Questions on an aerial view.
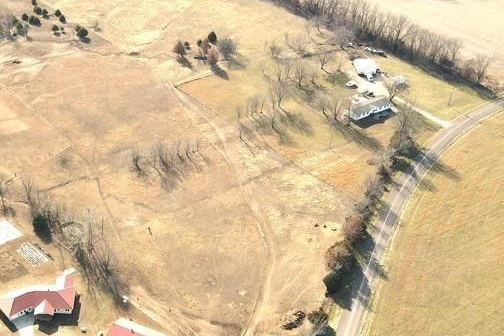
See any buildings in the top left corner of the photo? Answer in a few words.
No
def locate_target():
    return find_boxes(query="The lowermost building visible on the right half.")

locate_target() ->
[343,93,393,119]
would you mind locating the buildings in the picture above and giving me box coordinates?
[349,58,380,78]
[343,93,393,119]
[389,74,412,86]
[108,318,168,336]
[0,272,75,325]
